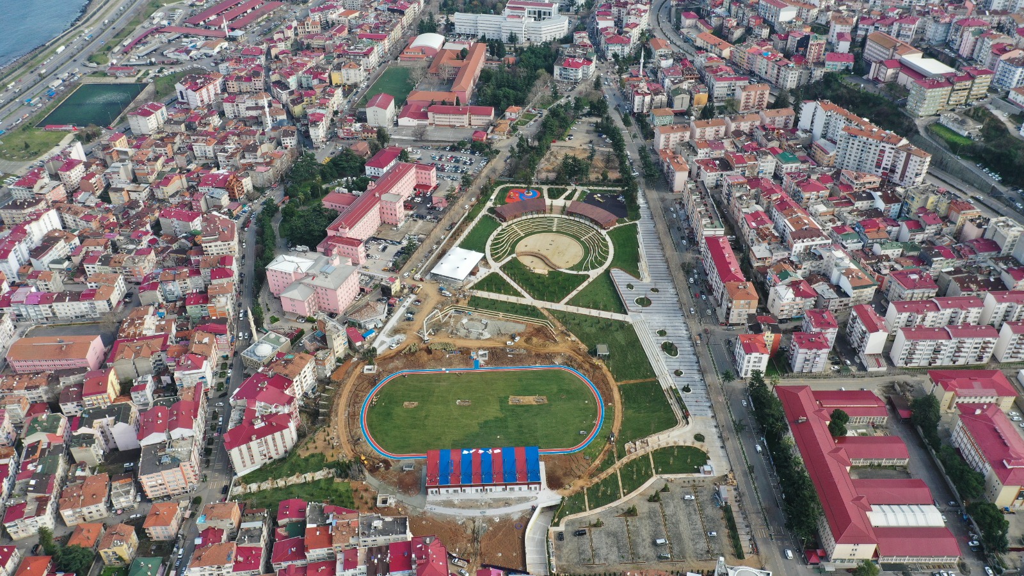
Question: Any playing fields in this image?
Yes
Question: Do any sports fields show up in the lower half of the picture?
Yes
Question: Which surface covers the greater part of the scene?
buildings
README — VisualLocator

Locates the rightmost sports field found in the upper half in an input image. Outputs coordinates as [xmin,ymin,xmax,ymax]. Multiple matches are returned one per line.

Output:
[354,66,413,107]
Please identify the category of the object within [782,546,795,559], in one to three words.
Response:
vehicle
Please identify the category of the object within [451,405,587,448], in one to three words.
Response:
sports field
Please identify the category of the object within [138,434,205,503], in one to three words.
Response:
building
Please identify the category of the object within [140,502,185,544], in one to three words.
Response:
house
